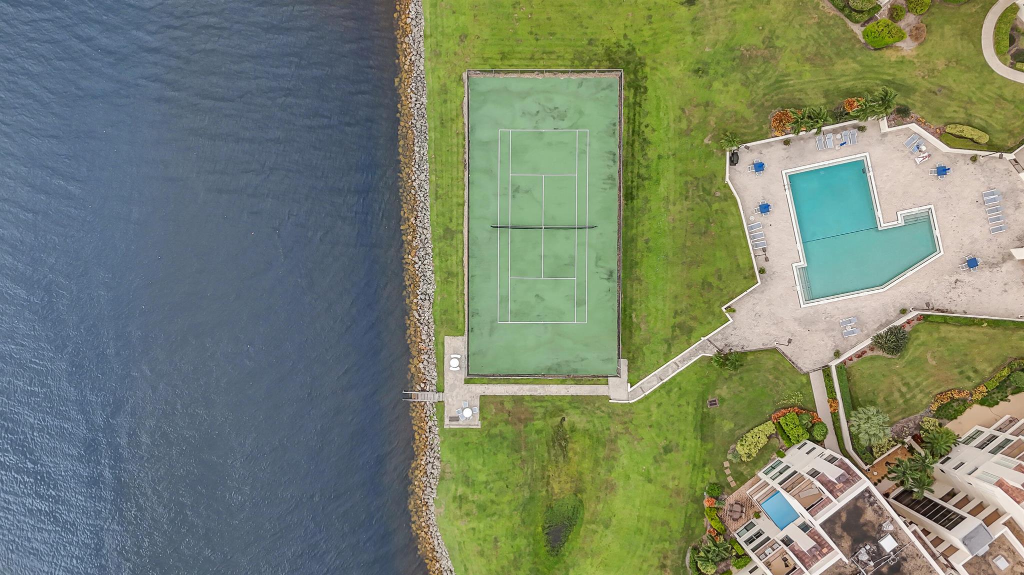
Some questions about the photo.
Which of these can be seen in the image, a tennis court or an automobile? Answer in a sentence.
Looking from above, you can make out a tennis court.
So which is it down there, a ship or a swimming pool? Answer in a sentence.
The one in the frame is a swimming pool.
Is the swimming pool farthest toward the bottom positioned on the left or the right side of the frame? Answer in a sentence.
The swimming pool farthest toward the bottom is on the right side of the image.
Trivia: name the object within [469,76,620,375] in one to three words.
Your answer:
tennis court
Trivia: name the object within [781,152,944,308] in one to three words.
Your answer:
swimming pool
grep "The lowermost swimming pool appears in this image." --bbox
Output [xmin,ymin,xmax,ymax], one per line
[762,490,797,527]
